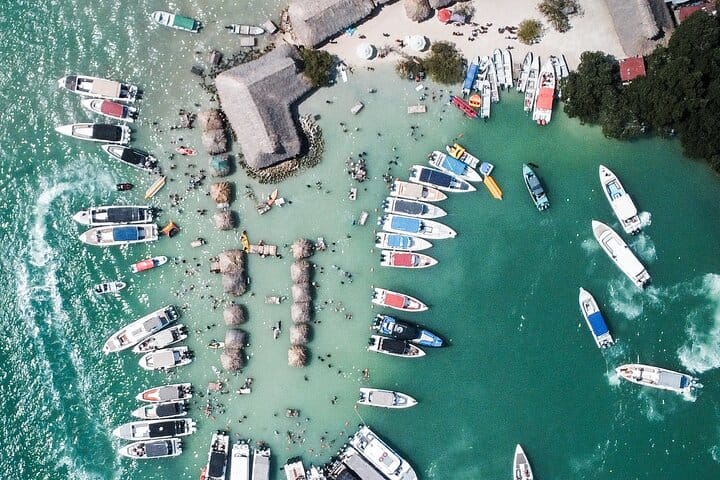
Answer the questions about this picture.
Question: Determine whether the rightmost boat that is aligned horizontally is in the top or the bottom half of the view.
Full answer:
It is in the bottom half that the rightmost boat that is aligned horizontally appears.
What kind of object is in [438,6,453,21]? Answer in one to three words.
umbrella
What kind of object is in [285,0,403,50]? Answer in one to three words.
building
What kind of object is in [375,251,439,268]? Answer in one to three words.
boat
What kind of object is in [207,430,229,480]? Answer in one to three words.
boat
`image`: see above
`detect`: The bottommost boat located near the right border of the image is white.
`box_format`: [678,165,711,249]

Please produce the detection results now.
[616,367,698,390]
